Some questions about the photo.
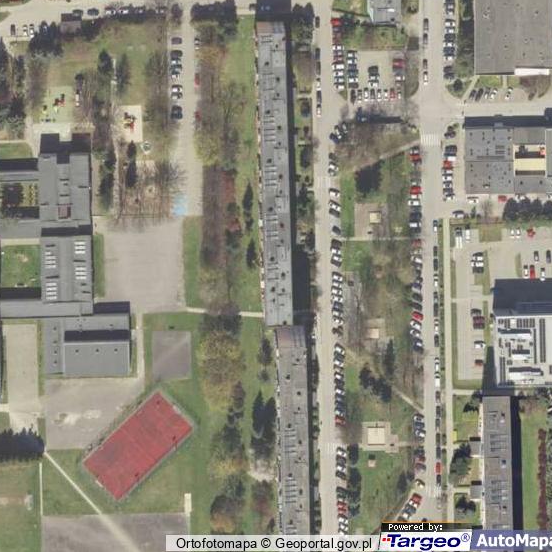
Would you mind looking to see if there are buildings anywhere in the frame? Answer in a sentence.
Yes, the photo shows a building.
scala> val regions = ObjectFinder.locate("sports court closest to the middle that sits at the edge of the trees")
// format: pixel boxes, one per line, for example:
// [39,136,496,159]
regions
[152,328,191,380]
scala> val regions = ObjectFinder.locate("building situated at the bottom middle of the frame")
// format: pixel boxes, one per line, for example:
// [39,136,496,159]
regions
[273,326,310,552]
